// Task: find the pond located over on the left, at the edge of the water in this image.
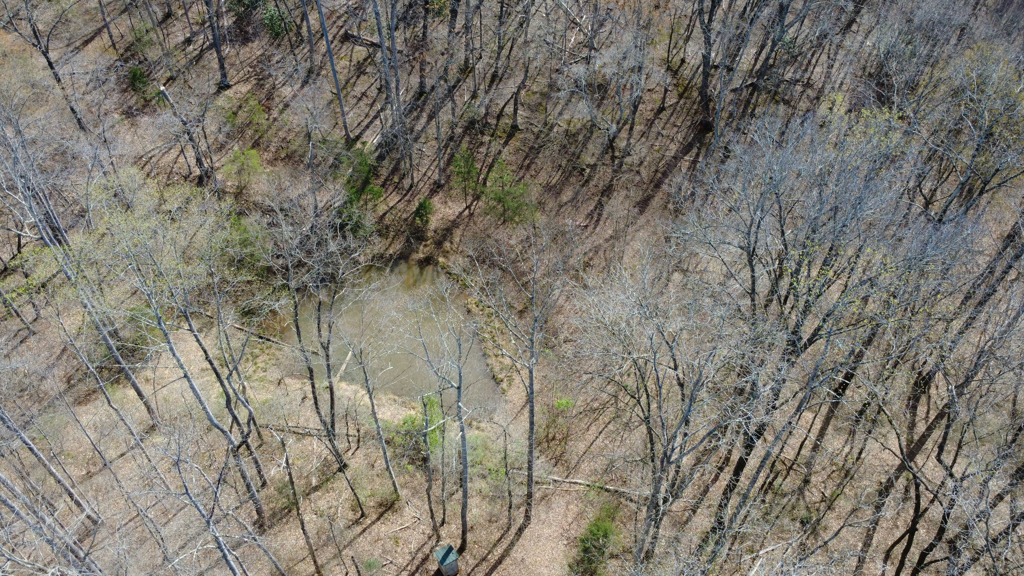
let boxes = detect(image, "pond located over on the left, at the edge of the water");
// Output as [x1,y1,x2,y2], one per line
[278,259,499,424]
